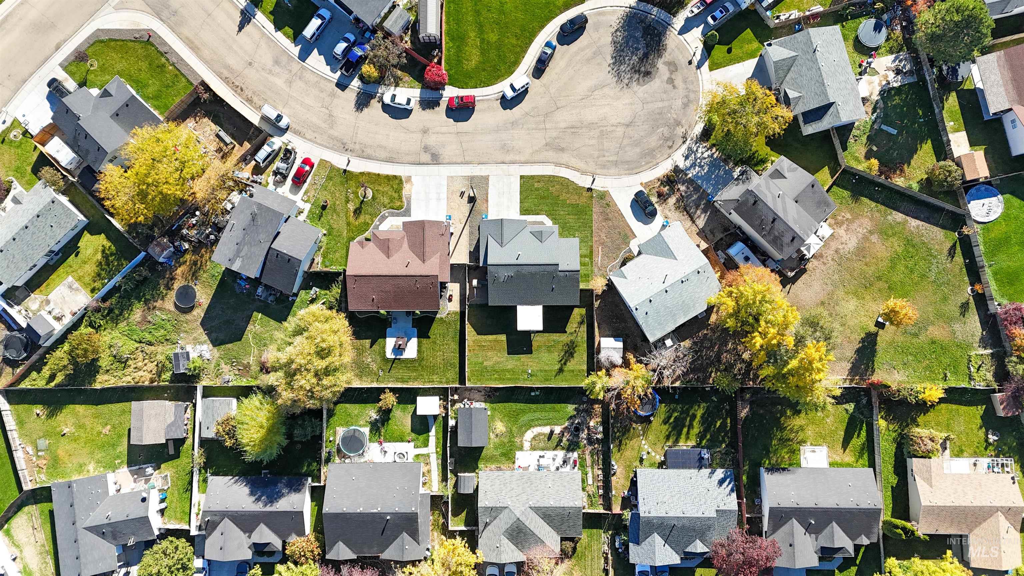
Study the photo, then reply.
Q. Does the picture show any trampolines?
Yes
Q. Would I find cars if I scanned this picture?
Yes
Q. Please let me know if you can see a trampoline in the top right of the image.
Yes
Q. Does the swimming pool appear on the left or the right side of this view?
right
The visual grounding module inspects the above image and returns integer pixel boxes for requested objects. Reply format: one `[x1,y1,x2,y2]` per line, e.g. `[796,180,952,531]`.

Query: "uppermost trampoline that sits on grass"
[855,18,887,49]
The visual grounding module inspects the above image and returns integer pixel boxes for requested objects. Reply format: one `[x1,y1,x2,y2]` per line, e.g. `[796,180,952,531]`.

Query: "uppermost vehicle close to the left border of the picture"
[44,72,74,99]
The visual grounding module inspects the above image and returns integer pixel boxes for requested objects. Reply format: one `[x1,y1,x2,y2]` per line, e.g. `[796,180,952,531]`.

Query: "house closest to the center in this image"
[479,219,580,306]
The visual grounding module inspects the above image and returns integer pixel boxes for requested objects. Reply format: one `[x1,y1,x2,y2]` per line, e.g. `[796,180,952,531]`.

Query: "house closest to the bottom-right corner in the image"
[903,454,1024,570]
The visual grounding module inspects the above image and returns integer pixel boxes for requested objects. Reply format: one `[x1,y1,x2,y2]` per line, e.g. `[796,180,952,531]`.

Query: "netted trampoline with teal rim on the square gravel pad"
[337,426,368,457]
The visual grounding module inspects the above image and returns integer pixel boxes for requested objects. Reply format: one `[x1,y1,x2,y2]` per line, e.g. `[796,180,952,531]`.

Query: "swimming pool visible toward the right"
[966,184,1004,222]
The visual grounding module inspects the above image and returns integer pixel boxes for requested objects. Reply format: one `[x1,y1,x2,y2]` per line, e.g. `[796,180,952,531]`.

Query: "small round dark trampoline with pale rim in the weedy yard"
[175,284,199,306]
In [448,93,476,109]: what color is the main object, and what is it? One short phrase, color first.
red car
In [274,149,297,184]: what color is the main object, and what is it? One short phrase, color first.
gray truck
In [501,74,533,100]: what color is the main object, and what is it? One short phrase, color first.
white car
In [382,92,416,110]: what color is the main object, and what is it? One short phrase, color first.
white car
